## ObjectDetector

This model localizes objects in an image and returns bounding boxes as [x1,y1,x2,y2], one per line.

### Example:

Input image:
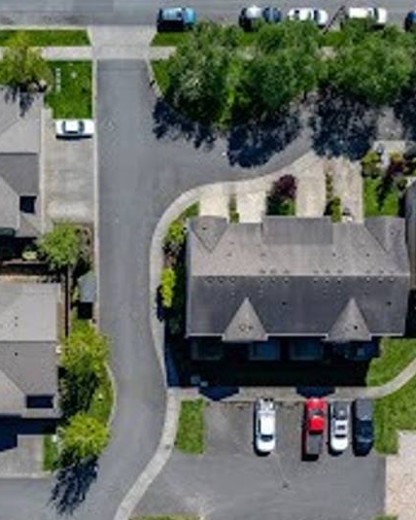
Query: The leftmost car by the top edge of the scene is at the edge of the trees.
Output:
[155,8,196,30]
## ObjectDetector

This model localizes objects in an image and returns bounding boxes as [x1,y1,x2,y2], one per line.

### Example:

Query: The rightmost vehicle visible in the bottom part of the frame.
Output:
[352,400,375,453]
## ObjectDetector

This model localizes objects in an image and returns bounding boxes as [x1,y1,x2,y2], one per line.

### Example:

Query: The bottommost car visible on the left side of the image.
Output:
[52,119,95,139]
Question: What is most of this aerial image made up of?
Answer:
paved ground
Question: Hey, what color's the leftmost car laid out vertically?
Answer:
white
